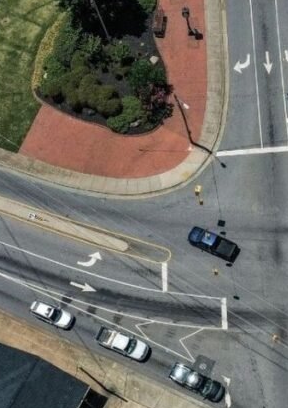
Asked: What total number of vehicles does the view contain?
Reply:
4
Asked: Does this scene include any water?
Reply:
No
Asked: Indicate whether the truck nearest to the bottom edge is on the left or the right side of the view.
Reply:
right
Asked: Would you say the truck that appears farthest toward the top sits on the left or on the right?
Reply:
right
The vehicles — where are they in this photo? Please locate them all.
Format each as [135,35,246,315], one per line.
[27,298,73,328]
[168,362,226,400]
[187,227,240,259]
[95,323,150,359]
